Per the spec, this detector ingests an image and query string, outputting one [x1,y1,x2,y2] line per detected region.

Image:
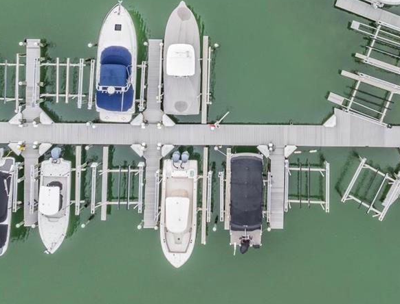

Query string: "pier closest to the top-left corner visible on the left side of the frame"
[23,40,44,123]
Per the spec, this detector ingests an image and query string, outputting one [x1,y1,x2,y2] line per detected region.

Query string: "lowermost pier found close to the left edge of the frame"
[9,143,54,226]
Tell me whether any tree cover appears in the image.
No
